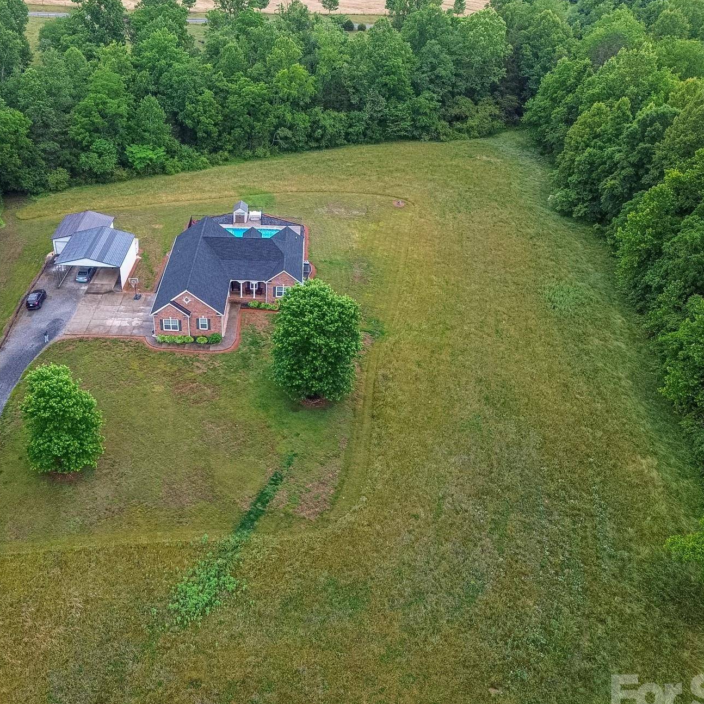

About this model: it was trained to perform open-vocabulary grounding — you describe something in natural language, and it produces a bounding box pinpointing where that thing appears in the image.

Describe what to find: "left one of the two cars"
[26,286,50,308]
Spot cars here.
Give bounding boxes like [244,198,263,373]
[75,267,96,281]
[26,286,50,308]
